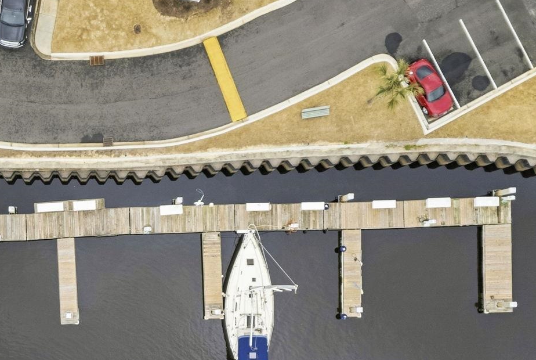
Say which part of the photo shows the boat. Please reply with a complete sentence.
Look in the bottom portion of the view to spot the boat.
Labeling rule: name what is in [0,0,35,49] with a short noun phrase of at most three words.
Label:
vehicle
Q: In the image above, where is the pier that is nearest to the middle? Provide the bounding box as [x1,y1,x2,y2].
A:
[234,202,324,232]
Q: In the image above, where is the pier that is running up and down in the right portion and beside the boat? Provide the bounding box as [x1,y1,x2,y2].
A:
[336,229,363,318]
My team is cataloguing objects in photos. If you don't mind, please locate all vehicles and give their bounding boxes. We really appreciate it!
[408,57,454,118]
[0,0,35,49]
